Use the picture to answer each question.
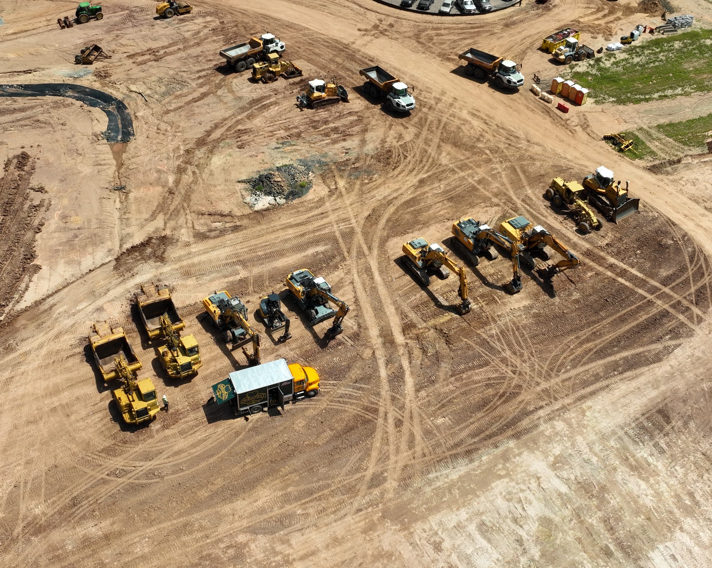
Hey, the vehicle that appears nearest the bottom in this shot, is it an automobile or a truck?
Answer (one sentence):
From above, the vehicle that appears nearest the bottom can be identified as a truck.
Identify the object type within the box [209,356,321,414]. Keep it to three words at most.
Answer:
truck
